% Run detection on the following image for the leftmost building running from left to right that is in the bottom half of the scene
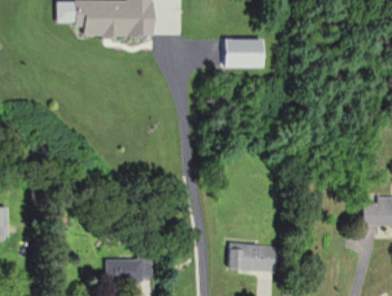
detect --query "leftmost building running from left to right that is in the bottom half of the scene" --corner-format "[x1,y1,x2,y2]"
[105,258,152,280]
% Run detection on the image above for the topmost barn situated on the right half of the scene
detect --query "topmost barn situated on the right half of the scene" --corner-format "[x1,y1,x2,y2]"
[226,38,266,68]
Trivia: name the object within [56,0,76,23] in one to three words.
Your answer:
shed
